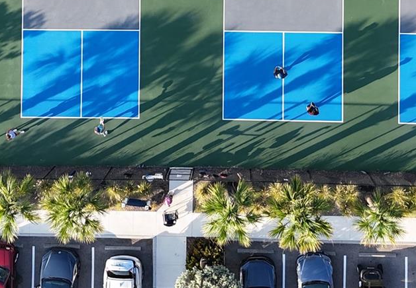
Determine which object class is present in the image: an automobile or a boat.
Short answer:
automobile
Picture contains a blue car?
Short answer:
Yes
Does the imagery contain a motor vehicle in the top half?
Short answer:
No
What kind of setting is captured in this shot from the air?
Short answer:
sports ground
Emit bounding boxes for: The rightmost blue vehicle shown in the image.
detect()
[289,251,331,288]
